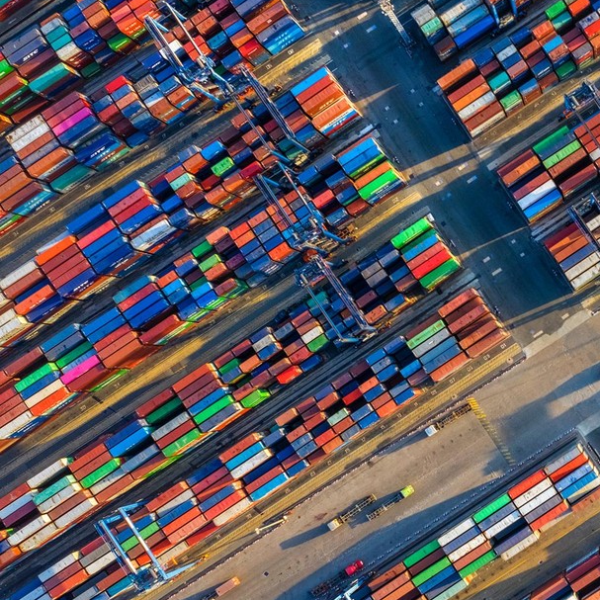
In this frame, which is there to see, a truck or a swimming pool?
truck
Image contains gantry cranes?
Yes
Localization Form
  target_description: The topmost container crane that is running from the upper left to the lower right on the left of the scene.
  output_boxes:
[139,0,242,116]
